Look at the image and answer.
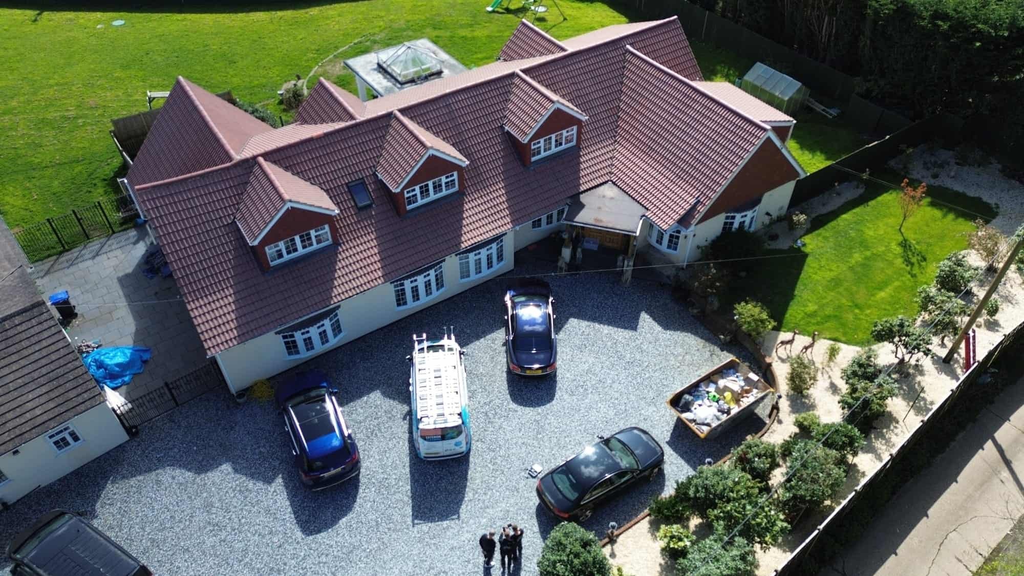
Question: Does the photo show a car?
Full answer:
Yes, the photo shows a car.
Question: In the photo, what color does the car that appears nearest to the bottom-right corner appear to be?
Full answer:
From above, the car that appears nearest to the bottom-right corner appears black.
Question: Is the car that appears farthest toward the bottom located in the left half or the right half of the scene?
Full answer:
The car that appears farthest toward the bottom appears in the left half of the scene.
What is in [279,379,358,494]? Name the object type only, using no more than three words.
car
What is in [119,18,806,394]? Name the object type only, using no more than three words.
house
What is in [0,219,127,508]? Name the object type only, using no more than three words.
shed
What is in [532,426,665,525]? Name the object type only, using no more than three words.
car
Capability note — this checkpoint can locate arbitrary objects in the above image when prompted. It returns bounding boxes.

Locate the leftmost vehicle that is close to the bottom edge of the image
[8,507,154,576]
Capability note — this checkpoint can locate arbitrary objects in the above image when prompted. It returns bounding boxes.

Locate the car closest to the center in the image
[503,282,556,377]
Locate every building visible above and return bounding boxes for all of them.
[0,219,127,508]
[119,18,806,394]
